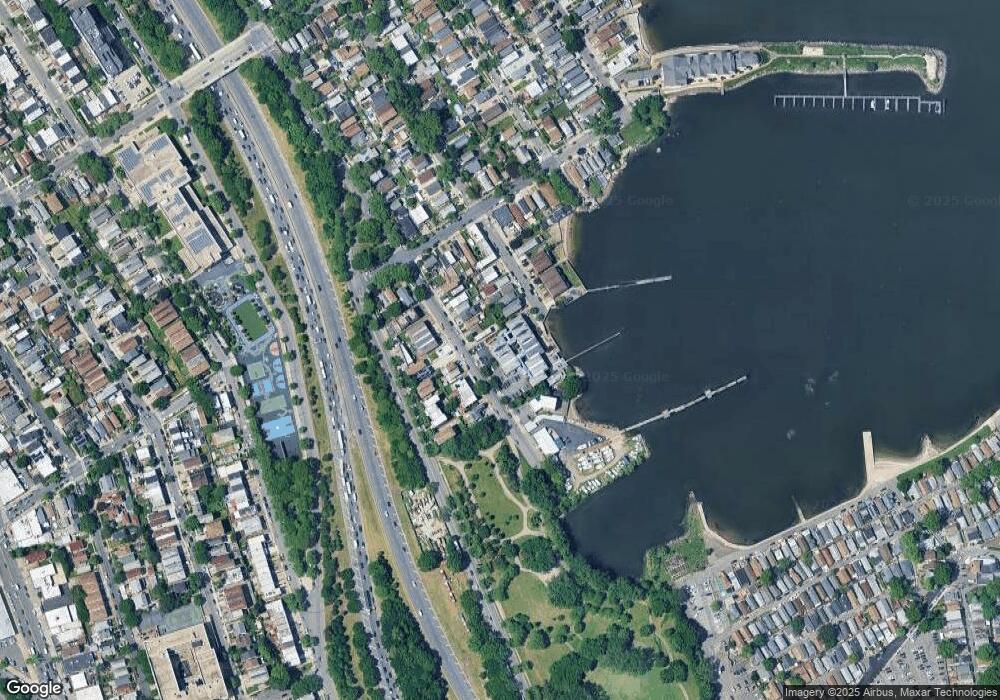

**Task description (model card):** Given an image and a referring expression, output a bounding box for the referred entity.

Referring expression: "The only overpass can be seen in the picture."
[175,33,259,94]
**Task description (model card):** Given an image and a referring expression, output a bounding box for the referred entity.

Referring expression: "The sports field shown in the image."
[234,300,268,340]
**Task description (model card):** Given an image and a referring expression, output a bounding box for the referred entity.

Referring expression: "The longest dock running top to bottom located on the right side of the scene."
[863,431,880,486]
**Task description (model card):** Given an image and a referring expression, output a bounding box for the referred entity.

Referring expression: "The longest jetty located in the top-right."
[774,96,944,115]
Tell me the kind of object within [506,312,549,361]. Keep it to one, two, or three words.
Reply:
shed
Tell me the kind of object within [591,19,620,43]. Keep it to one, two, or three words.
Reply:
house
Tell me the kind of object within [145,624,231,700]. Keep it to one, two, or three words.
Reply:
building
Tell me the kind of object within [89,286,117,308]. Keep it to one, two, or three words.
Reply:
house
